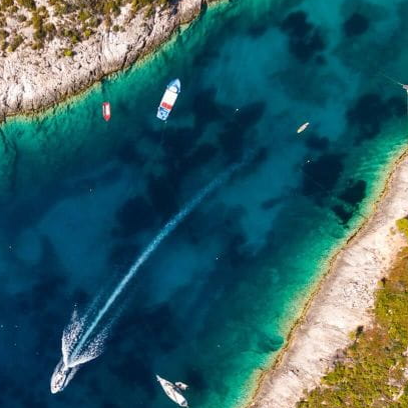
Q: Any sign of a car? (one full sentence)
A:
No, there isn't any car down there.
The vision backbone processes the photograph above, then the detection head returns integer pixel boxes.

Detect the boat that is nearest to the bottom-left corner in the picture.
[53,365,70,393]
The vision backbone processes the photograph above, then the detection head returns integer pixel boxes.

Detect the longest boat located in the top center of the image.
[157,78,180,122]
